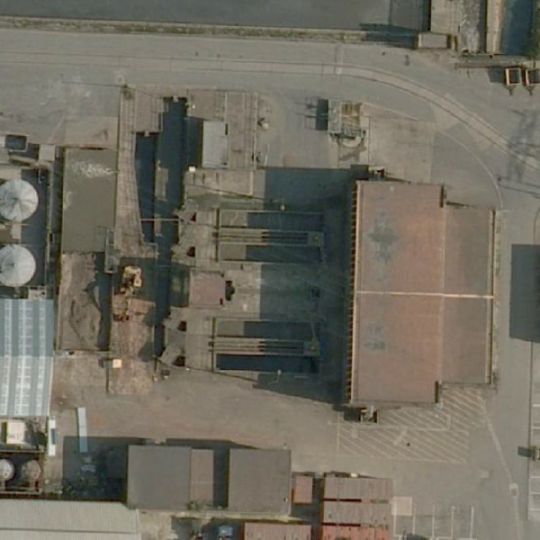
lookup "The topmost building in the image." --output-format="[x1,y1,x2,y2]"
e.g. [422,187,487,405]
[416,34,448,49]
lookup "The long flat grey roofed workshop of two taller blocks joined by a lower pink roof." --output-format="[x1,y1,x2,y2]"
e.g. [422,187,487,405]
[123,447,291,515]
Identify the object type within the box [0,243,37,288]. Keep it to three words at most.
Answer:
storage tank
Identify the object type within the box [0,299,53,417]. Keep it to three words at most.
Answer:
building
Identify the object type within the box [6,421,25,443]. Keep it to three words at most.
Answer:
shed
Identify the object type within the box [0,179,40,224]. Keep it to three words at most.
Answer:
storage tank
